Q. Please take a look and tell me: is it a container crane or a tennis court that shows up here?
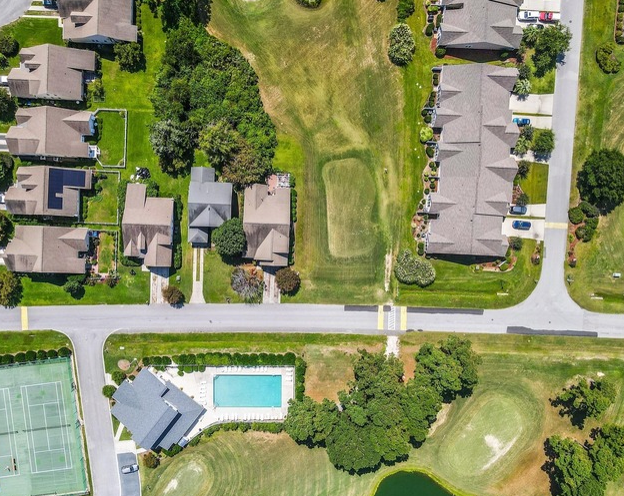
tennis court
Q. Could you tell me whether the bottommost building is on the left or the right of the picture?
left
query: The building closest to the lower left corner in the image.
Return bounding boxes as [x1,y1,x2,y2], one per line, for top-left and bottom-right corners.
[108,368,206,451]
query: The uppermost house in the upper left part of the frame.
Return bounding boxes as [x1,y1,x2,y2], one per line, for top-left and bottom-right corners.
[57,0,133,42]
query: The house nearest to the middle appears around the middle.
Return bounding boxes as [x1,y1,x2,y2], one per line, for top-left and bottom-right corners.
[244,182,290,266]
